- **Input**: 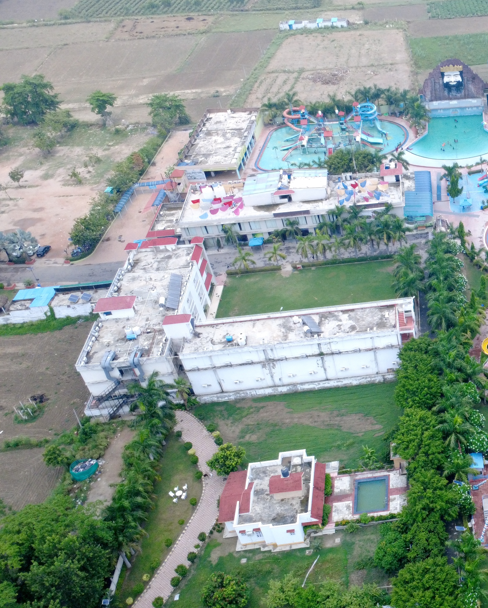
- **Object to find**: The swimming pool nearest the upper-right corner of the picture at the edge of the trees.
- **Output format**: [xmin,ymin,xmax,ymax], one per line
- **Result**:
[400,112,488,168]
